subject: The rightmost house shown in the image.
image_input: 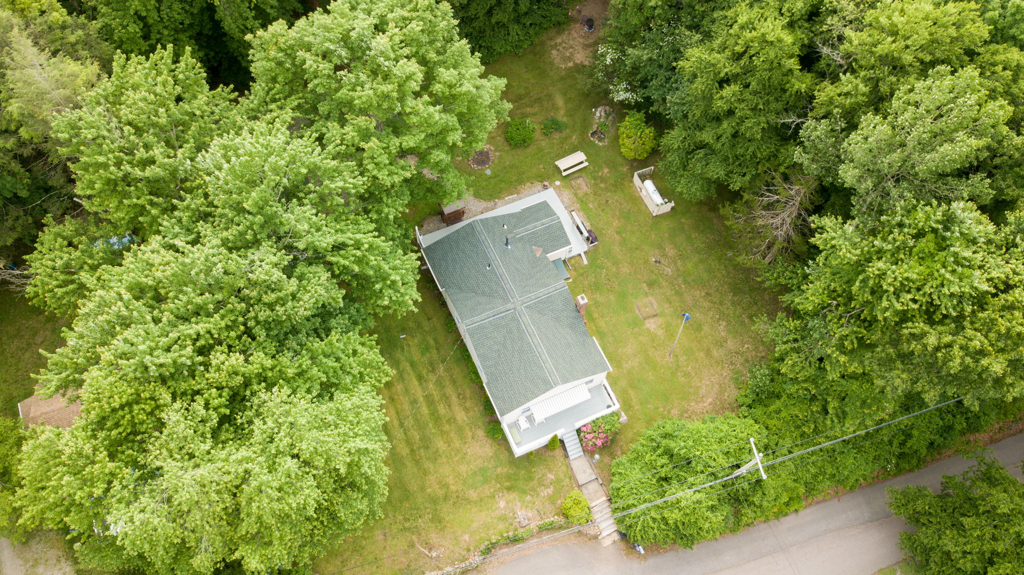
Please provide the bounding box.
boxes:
[419,188,619,462]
